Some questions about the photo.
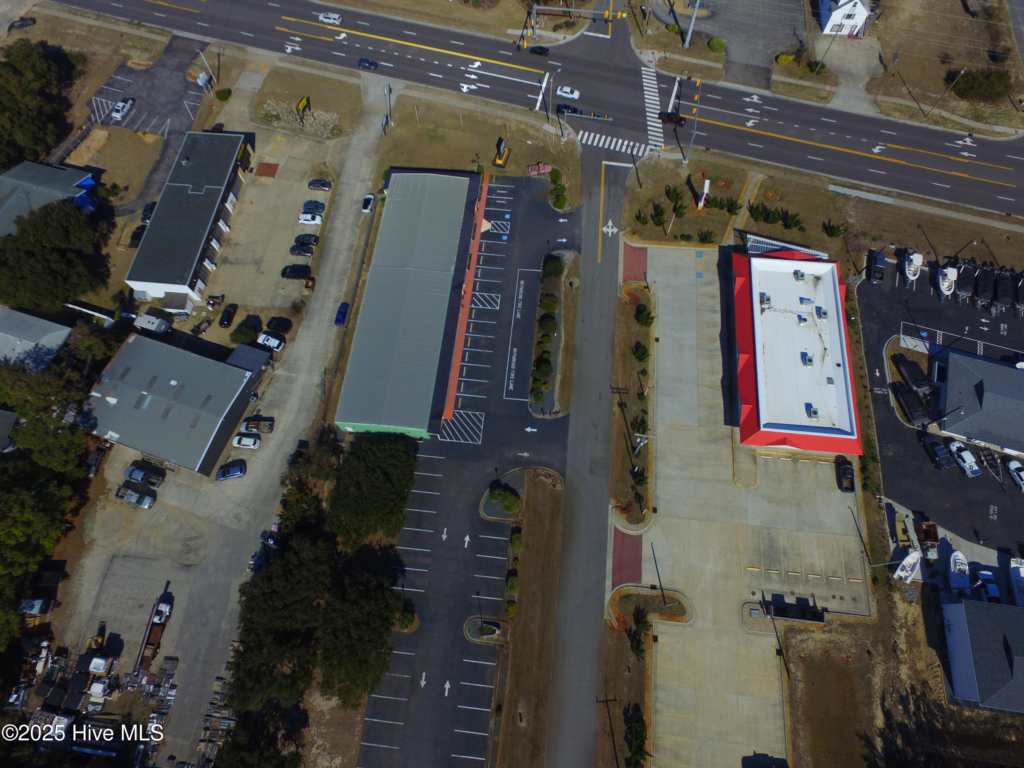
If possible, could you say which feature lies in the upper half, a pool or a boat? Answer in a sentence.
Visible in the upper half is a boat.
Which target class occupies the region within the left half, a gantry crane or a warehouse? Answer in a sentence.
You can see a warehouse within the left half.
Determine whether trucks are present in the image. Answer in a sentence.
Yes, this view includes a truck.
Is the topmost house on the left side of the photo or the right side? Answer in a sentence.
It is on the right.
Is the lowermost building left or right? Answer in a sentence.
You can find the lowermost building on the right side of the picture.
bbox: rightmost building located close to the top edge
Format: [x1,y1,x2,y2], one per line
[817,0,873,40]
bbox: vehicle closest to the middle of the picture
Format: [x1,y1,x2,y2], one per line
[334,301,352,326]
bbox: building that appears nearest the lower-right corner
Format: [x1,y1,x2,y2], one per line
[945,600,1024,712]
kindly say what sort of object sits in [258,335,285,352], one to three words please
car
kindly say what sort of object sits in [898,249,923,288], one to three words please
boat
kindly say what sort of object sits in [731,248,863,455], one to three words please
building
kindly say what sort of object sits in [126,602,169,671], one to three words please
truck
